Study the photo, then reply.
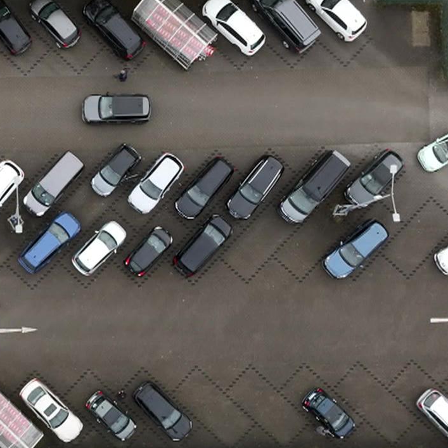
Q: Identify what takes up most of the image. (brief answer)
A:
paved ground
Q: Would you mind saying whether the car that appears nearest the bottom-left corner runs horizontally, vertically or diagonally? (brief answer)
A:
diagonally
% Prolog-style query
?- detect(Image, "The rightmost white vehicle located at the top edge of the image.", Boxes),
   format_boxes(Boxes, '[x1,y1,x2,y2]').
[309,0,368,45]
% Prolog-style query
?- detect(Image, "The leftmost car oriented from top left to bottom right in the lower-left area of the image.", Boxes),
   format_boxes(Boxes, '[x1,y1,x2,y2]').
[19,376,82,441]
